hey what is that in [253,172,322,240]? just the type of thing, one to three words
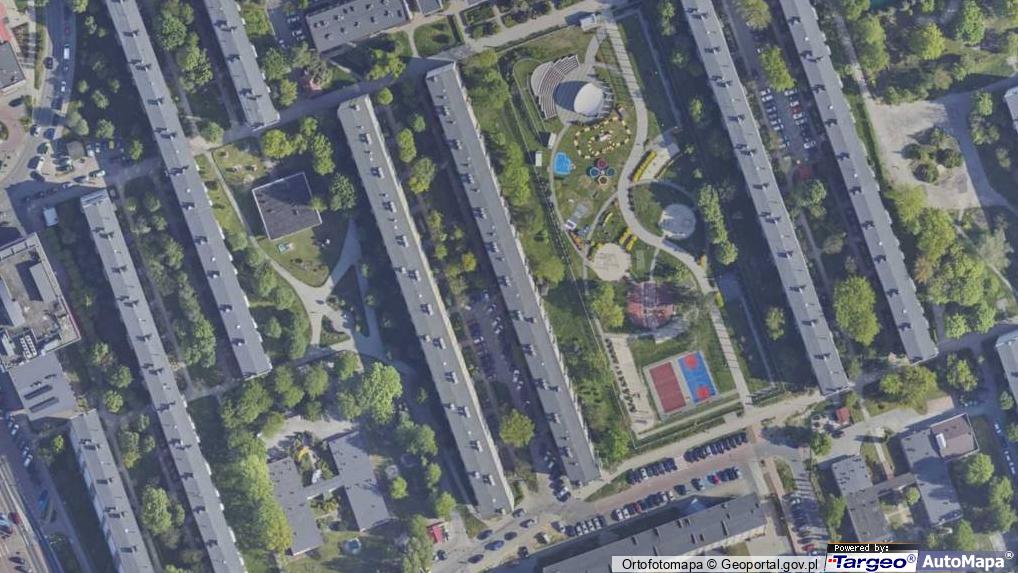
building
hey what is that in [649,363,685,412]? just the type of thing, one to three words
sports court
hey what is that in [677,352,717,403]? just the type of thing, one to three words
basketball court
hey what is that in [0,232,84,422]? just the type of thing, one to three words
building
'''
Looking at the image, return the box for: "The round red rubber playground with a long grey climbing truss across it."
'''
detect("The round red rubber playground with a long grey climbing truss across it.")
[627,282,672,331]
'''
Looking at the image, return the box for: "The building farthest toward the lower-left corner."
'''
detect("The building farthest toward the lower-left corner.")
[71,407,158,573]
